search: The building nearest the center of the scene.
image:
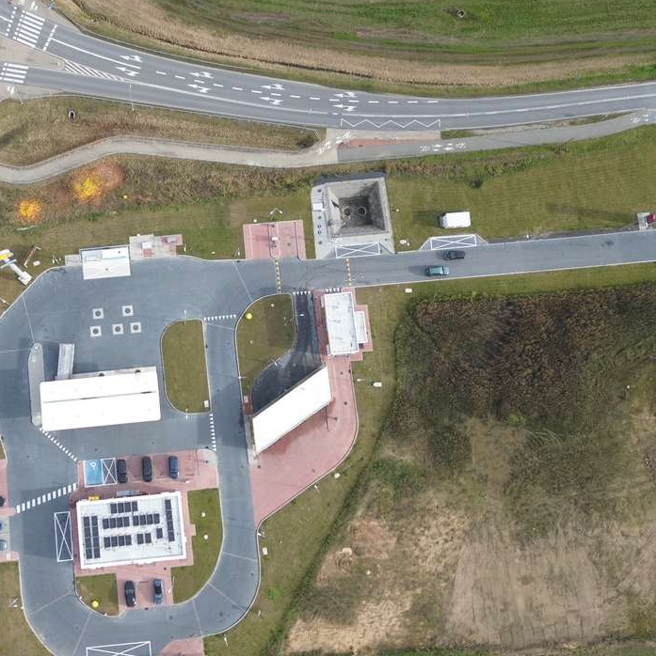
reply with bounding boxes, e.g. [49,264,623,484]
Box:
[316,292,368,356]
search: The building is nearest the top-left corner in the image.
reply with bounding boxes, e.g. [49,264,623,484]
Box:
[79,243,132,282]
